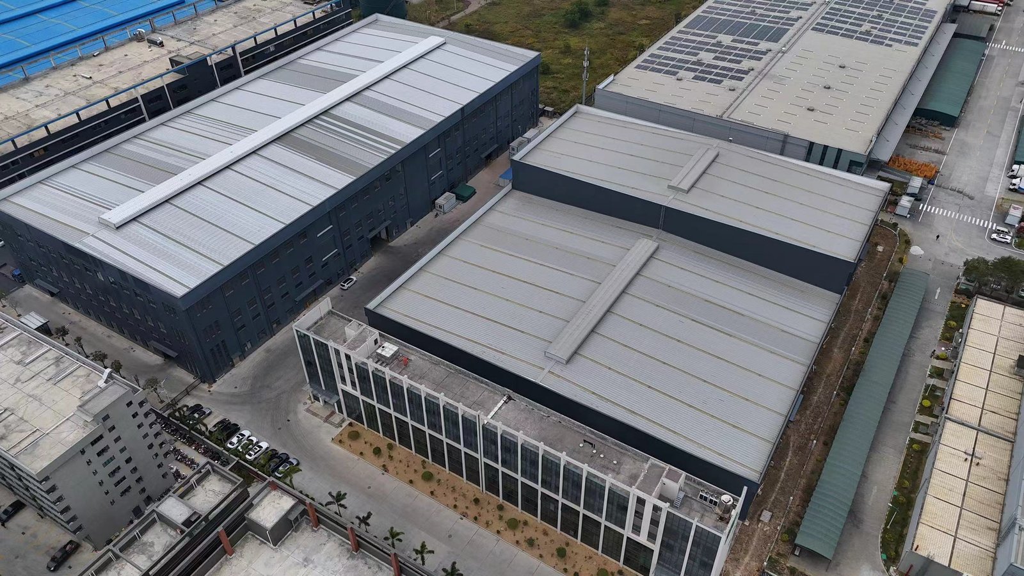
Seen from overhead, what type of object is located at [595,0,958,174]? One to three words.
warehouse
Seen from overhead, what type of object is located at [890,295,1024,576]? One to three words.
building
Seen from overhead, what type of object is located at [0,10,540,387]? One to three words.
building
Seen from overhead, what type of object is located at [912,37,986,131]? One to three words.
shed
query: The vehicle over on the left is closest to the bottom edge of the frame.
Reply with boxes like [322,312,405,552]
[41,539,77,571]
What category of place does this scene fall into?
industrial area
